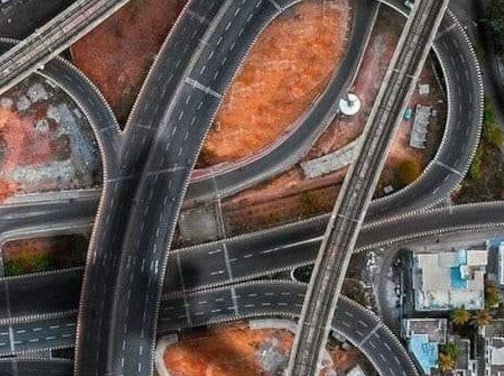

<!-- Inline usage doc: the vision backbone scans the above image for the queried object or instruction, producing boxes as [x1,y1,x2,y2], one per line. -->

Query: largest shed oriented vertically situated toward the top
[408,105,433,150]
